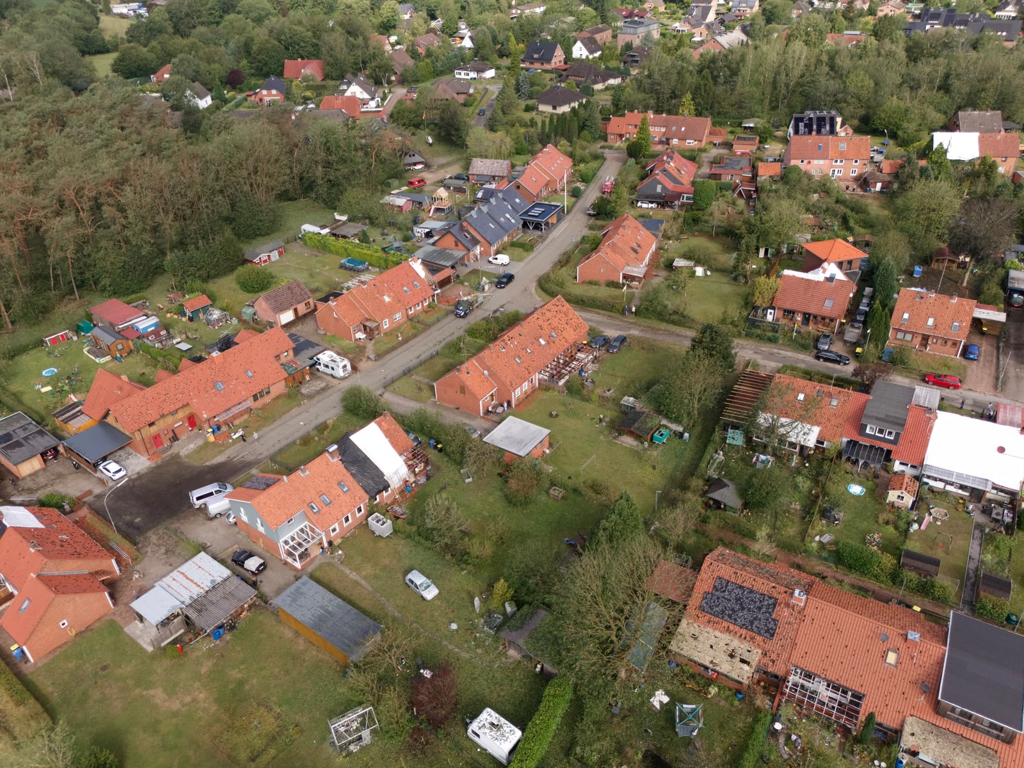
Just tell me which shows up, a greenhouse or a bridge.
greenhouse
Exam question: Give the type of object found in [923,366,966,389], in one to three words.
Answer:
car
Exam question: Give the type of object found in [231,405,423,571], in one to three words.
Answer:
house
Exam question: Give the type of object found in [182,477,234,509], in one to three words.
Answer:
van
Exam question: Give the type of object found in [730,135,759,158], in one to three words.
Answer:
building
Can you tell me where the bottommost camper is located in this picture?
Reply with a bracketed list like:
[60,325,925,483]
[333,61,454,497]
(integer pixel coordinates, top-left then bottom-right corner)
[463,697,525,768]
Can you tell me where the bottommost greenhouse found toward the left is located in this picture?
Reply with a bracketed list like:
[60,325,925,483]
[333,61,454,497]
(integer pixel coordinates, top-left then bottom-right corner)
[325,708,381,765]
